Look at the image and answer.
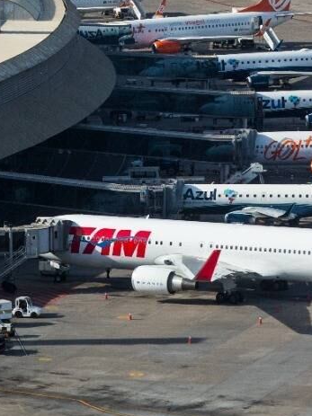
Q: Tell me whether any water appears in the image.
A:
No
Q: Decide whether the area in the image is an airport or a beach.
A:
airport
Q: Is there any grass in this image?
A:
No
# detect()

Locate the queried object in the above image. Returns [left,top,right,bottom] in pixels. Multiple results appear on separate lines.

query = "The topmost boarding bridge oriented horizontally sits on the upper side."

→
[110,51,218,94]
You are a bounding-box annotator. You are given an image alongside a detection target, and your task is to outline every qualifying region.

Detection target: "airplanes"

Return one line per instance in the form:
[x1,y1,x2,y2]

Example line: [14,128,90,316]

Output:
[89,0,312,53]
[229,127,312,174]
[249,84,312,124]
[57,210,312,306]
[204,39,312,88]
[146,174,312,225]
